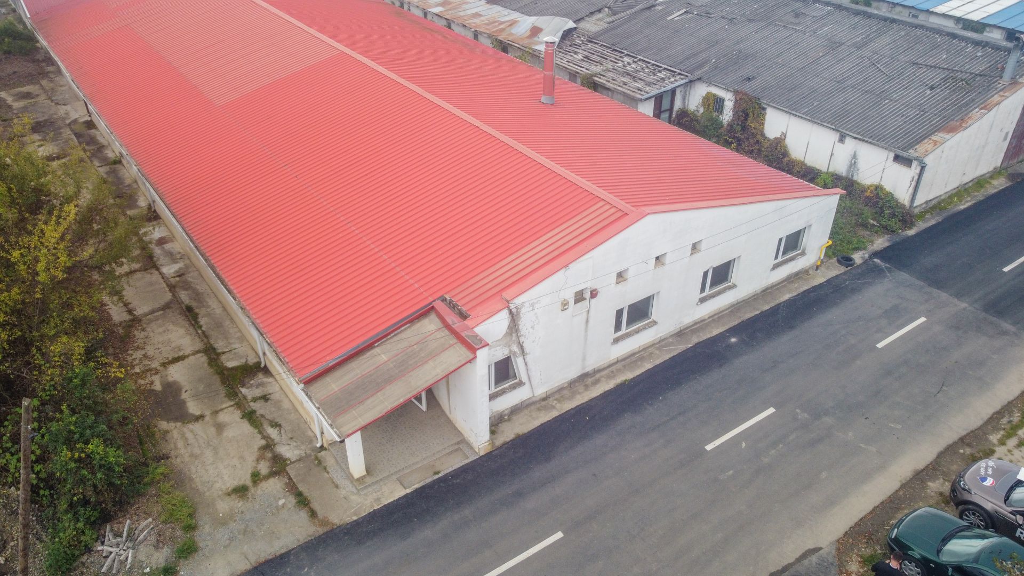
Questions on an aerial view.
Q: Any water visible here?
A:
No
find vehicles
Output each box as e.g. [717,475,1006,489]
[950,455,1024,540]
[884,506,1024,576]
